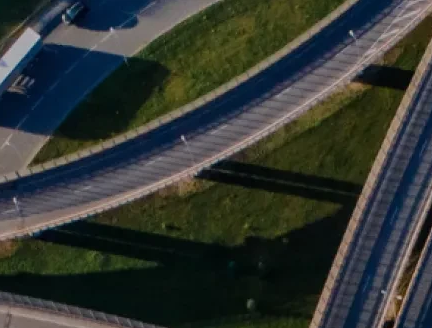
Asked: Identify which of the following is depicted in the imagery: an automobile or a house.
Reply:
automobile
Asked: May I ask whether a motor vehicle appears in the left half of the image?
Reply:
Yes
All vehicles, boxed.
[61,1,87,25]
[0,28,44,95]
